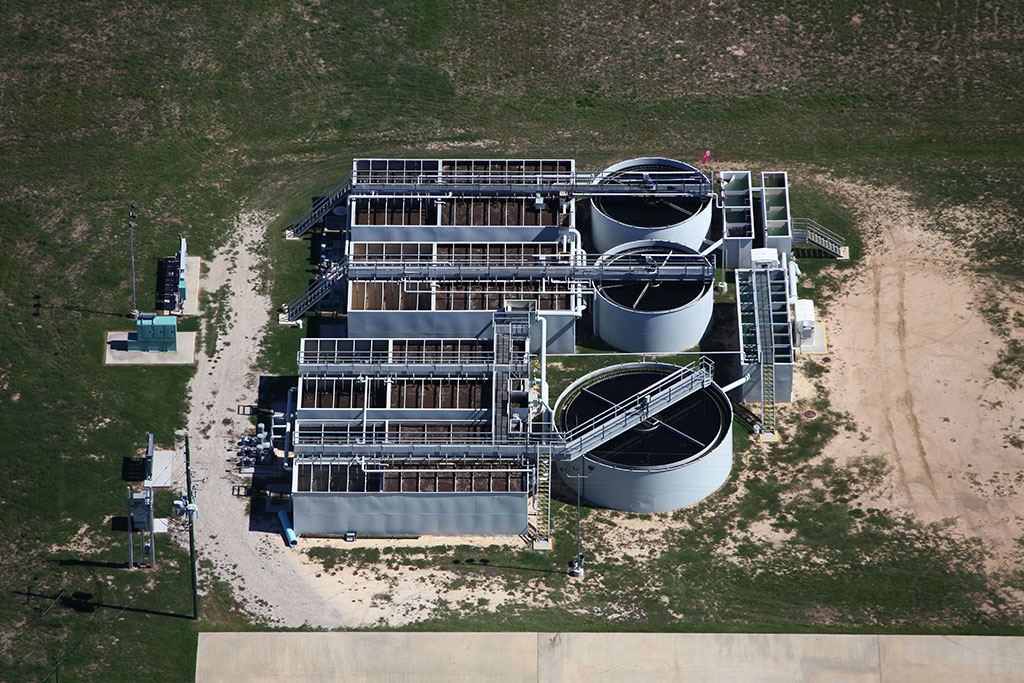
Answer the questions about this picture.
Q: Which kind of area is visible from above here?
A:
industrial area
